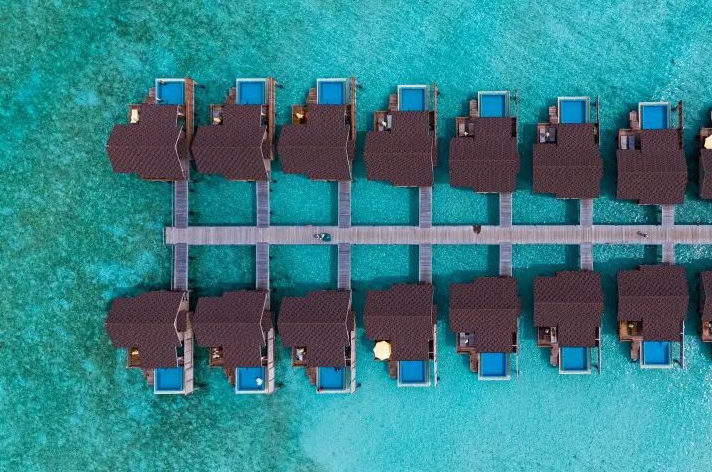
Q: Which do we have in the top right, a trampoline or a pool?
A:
pool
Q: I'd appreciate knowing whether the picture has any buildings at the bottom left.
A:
Yes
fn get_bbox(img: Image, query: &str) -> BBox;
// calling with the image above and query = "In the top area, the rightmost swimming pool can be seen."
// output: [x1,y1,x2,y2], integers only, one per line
[637,102,670,131]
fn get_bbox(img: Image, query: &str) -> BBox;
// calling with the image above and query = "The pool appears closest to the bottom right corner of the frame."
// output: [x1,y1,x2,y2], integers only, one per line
[639,339,672,368]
